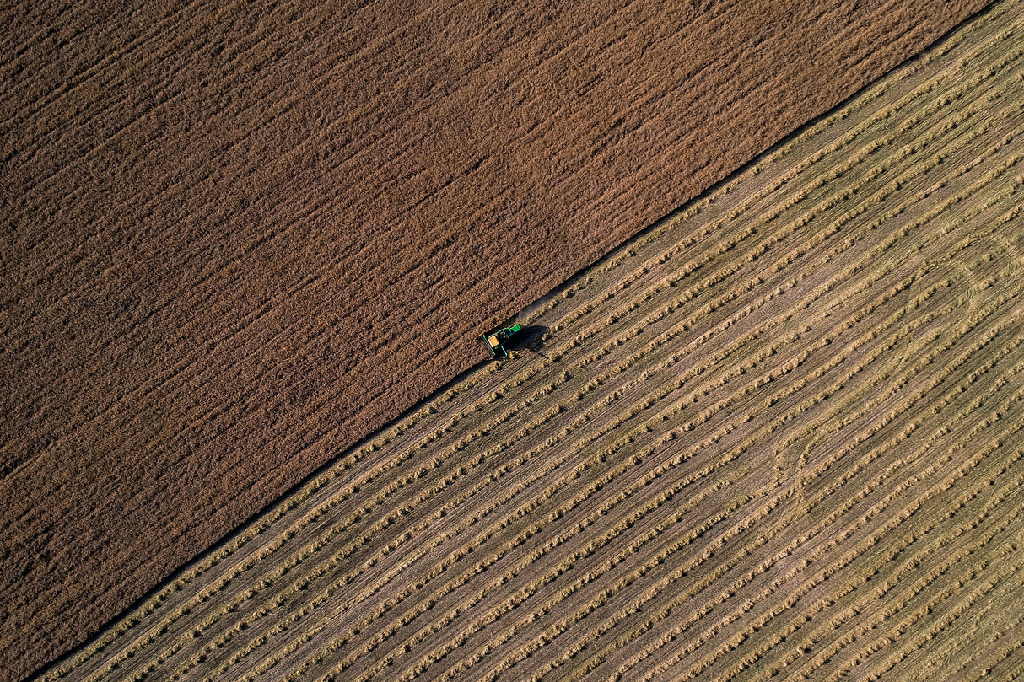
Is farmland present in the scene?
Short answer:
Yes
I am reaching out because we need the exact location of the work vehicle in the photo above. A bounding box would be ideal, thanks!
[477,323,523,358]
